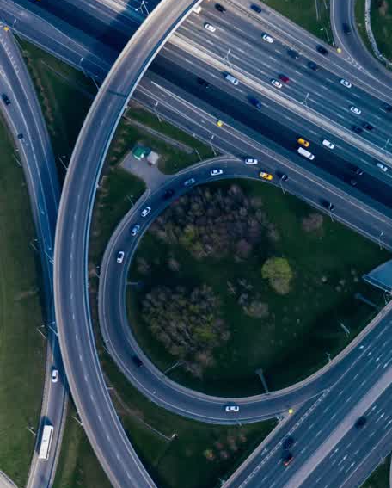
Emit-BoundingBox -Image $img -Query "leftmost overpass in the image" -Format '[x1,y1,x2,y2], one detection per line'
[52,0,204,488]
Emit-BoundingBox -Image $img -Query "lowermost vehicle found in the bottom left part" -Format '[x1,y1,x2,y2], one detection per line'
[38,425,54,461]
